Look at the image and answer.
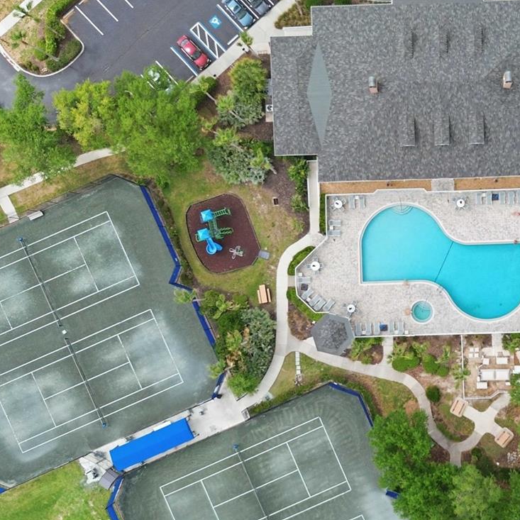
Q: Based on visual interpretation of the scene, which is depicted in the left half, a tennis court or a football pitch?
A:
tennis court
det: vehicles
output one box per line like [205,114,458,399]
[221,0,252,27]
[174,33,208,68]
[141,59,161,86]
[246,0,268,14]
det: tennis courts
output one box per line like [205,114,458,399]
[131,387,408,520]
[116,475,235,520]
[0,304,211,483]
[0,181,221,395]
